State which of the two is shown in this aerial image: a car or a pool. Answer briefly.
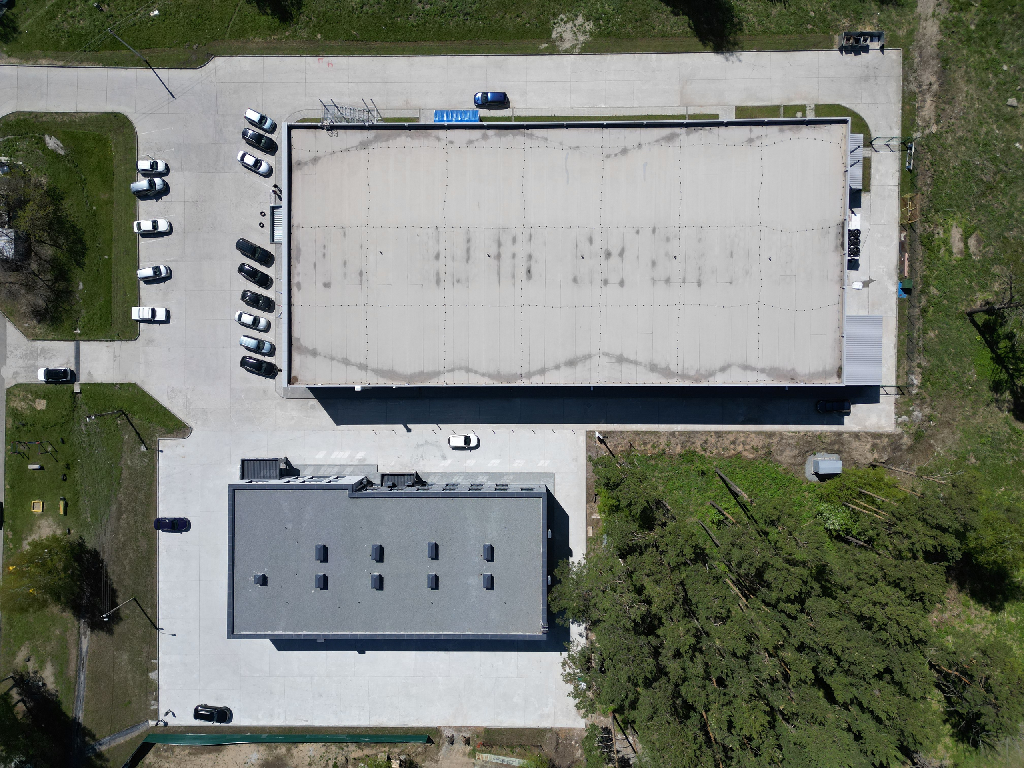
car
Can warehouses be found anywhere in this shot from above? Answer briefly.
Yes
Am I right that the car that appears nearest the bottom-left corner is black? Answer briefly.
Yes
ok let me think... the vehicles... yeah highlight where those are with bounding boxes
[237,289,275,311]
[446,432,479,449]
[131,306,169,322]
[132,216,172,235]
[231,237,273,264]
[238,127,279,153]
[126,175,169,198]
[234,262,273,288]
[134,157,169,175]
[237,355,280,378]
[474,88,508,107]
[237,335,275,355]
[233,310,271,331]
[241,106,278,133]
[134,263,172,282]
[36,365,72,383]
[235,150,273,177]
[191,703,232,727]
[814,397,854,415]
[152,515,191,533]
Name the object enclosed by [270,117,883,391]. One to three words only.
warehouse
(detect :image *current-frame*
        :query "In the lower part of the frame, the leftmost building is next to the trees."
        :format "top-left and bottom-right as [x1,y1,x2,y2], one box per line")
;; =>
[228,476,551,642]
